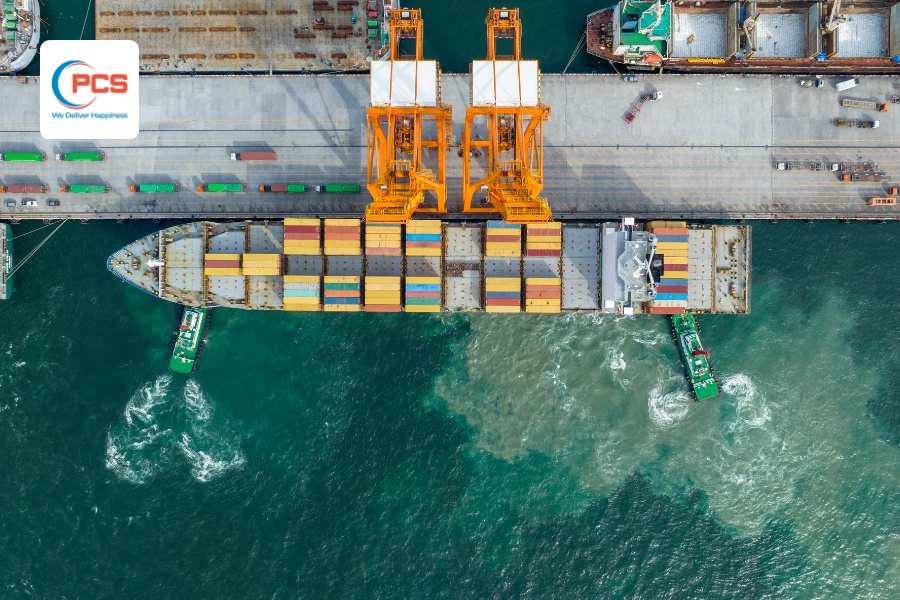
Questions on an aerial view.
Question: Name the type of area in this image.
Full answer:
What you see here is a port.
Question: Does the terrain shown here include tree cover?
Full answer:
No, no tree cover is visible.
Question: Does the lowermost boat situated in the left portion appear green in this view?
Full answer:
Yes, green is the color of the lowermost boat situated in the left portion.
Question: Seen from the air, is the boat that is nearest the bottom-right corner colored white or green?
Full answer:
The boat that is nearest the bottom-right corner is green.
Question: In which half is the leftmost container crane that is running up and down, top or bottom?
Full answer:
The top half of the photo is where the leftmost container crane that is running up and down is.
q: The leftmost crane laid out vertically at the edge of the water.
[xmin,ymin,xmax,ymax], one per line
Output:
[364,2,454,227]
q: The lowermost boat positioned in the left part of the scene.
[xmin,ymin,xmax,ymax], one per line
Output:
[168,304,209,377]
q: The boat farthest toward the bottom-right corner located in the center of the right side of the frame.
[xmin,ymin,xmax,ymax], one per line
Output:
[672,314,722,401]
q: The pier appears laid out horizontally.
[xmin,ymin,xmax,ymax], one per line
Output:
[0,70,900,224]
